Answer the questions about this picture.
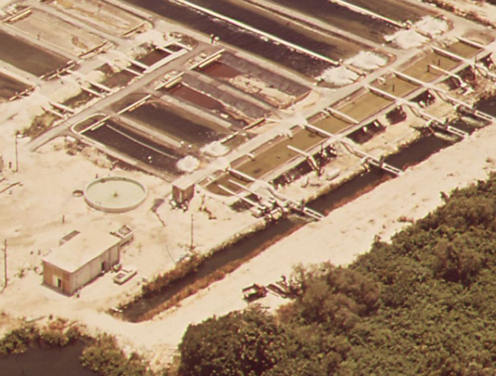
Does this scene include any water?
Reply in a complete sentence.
Yes, there's water in this view.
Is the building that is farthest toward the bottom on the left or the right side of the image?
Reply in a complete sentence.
The building that is farthest toward the bottom sits on the left side.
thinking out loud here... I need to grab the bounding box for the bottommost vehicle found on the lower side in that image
[241,281,266,299]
